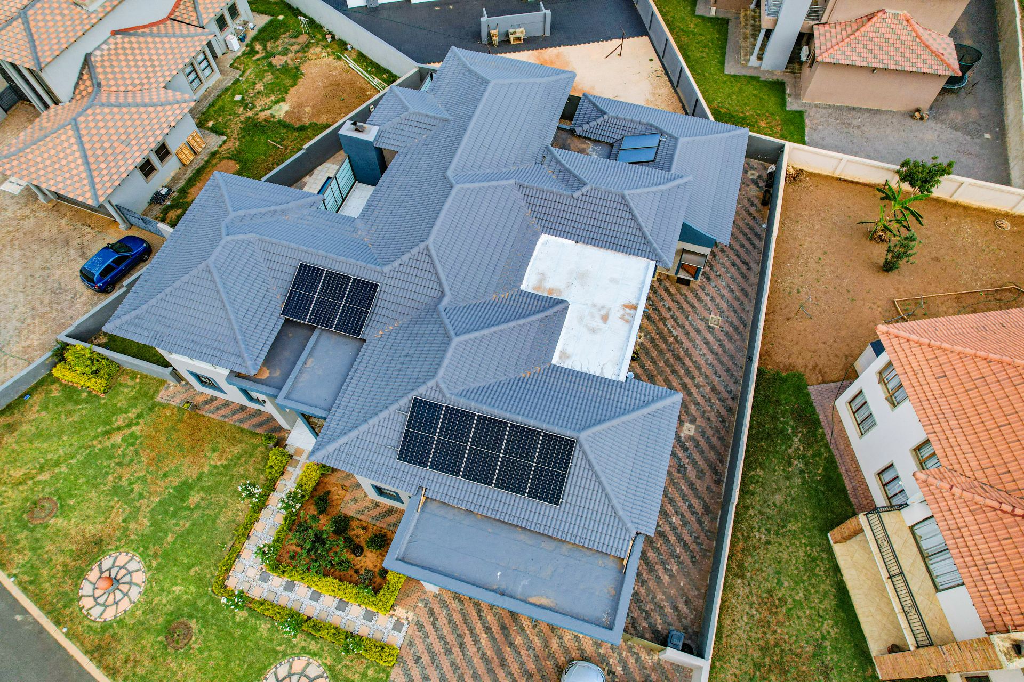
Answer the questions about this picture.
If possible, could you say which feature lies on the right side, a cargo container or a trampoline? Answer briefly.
trampoline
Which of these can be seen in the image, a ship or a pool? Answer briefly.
pool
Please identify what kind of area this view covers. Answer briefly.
residential area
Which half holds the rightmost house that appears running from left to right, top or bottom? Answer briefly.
top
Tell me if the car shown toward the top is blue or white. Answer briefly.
blue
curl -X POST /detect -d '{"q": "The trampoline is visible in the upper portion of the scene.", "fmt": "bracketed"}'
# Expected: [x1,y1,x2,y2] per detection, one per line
[938,36,990,99]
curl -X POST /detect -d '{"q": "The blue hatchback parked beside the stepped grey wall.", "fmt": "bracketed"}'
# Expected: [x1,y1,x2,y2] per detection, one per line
[73,235,151,297]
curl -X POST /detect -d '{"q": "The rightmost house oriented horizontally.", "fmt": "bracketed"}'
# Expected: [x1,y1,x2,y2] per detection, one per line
[703,0,968,110]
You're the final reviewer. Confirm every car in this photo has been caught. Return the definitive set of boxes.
[559,663,608,682]
[73,235,151,297]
